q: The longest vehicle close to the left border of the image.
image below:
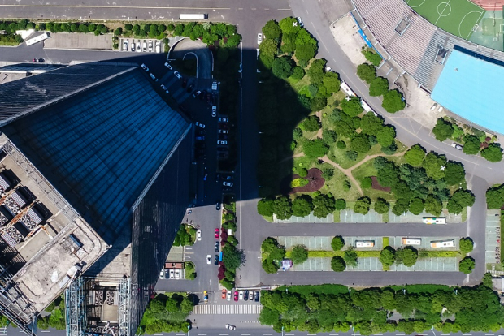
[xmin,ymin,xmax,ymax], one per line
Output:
[25,31,54,46]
